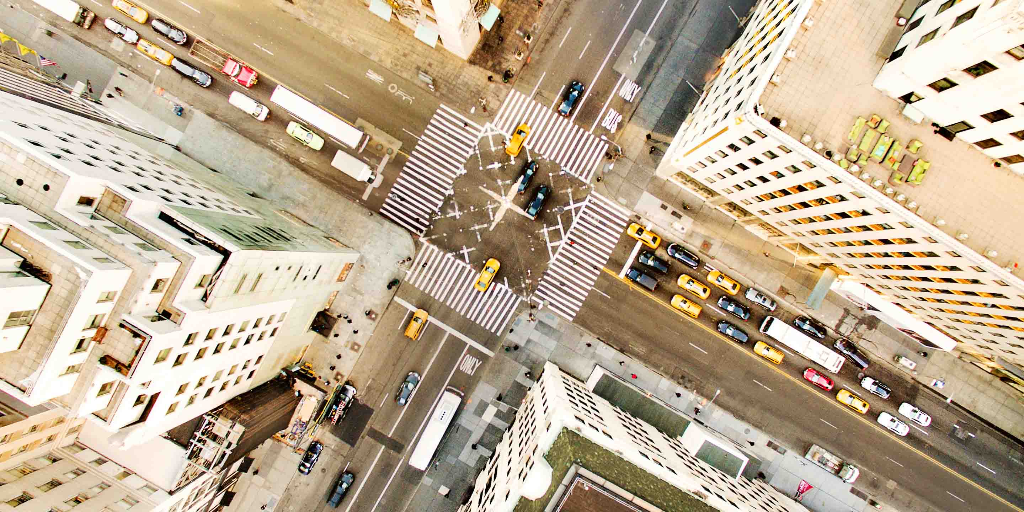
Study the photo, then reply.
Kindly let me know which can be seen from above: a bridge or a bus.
bus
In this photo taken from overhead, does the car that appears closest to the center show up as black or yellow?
yellow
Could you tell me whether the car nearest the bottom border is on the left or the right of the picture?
left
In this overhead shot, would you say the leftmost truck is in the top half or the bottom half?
top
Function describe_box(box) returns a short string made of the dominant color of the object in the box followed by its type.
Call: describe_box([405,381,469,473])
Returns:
white bus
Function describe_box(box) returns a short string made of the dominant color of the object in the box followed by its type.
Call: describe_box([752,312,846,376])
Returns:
white bus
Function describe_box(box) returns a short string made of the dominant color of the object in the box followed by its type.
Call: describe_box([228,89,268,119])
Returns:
white van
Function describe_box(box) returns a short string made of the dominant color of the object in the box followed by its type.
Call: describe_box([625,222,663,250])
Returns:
yellow car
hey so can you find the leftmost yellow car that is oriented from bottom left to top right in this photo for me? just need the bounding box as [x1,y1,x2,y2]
[402,306,431,343]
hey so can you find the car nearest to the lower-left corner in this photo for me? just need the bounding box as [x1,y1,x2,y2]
[297,440,325,478]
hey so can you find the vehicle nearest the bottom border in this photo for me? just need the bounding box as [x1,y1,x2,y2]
[327,471,354,508]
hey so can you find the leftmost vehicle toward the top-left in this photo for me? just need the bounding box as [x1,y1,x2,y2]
[35,0,105,35]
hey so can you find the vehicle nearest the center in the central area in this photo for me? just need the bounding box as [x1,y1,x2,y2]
[474,256,501,294]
